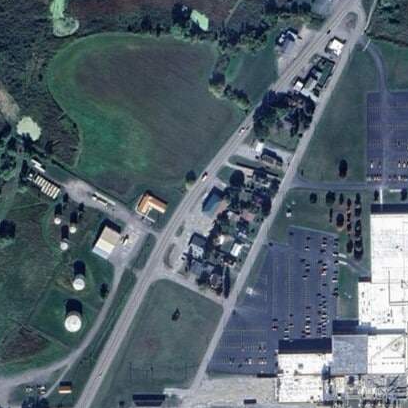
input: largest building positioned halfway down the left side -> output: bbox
[93,226,122,258]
